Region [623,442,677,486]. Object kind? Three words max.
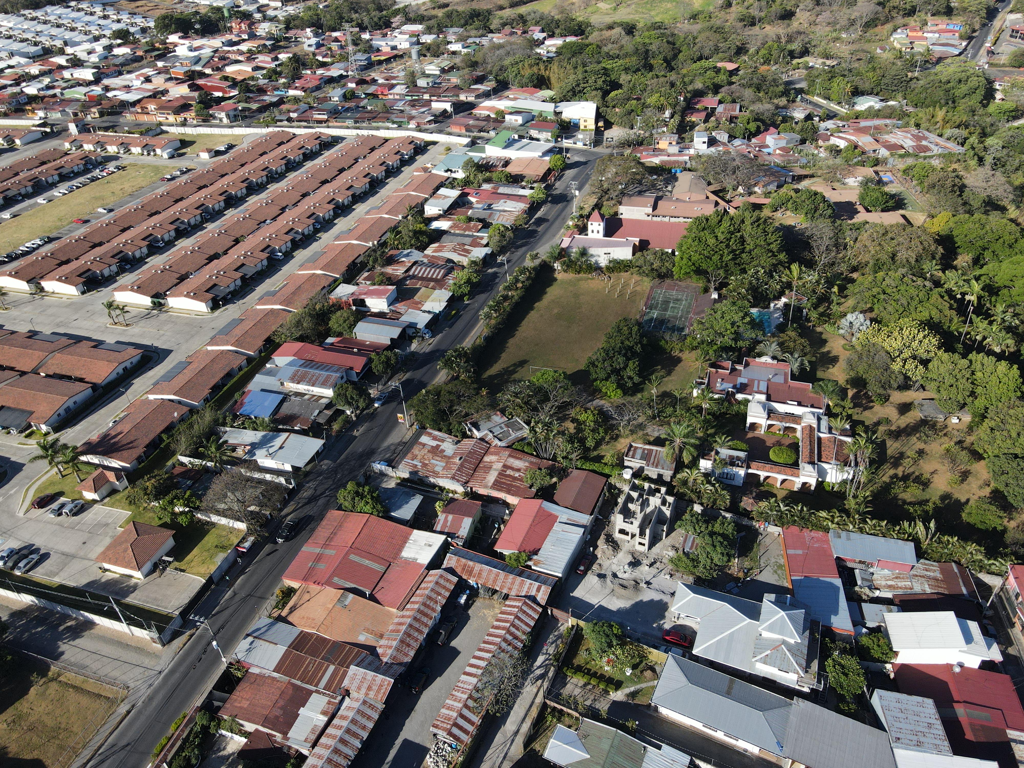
building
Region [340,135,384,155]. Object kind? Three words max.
house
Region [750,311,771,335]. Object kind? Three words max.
swimming pool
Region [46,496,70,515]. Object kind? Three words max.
car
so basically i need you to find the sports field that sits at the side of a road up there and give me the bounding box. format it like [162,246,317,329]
[493,265,674,401]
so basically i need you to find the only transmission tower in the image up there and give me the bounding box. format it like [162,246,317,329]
[342,22,361,74]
